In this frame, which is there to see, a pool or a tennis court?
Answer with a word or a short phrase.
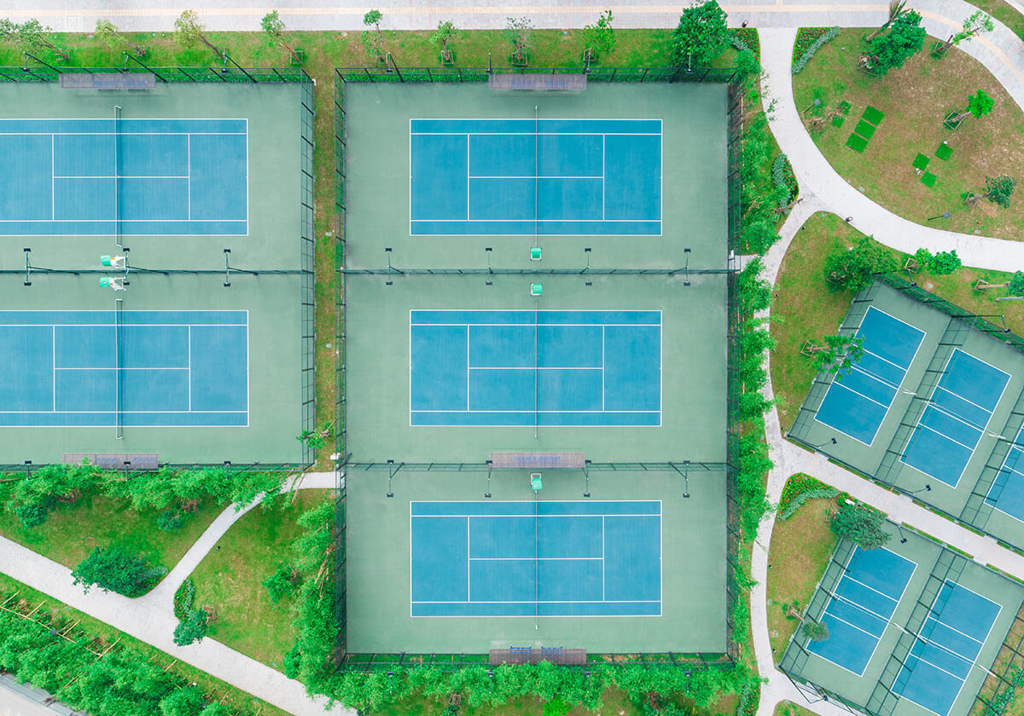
tennis court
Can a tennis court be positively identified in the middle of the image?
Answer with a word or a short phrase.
Yes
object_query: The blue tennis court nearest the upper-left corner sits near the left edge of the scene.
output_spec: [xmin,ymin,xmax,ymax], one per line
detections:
[0,117,248,236]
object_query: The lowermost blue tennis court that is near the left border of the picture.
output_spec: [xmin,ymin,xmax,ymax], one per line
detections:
[0,310,248,427]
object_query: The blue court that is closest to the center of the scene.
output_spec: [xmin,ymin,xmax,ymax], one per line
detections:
[410,309,663,427]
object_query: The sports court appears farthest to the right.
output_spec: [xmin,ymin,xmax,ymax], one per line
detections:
[984,424,1024,523]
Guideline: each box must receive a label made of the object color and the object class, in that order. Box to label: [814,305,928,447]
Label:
blue sports court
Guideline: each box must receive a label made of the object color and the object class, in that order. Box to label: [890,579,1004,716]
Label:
blue sports court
